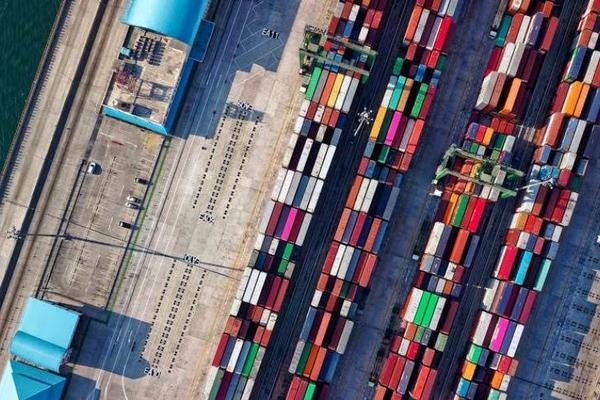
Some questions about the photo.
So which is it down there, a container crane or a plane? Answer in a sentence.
I can see a container crane in this picture.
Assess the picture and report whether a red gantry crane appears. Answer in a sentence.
No, the picture doesn't show any red gantry crane.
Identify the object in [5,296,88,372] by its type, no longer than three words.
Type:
shed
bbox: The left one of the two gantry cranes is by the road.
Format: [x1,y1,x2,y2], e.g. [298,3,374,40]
[297,19,380,88]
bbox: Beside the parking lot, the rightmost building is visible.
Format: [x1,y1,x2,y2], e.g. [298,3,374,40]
[103,0,219,137]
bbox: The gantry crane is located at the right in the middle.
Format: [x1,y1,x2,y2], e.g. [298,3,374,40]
[434,147,527,201]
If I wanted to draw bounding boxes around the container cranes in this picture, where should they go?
[434,147,527,201]
[297,19,380,88]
